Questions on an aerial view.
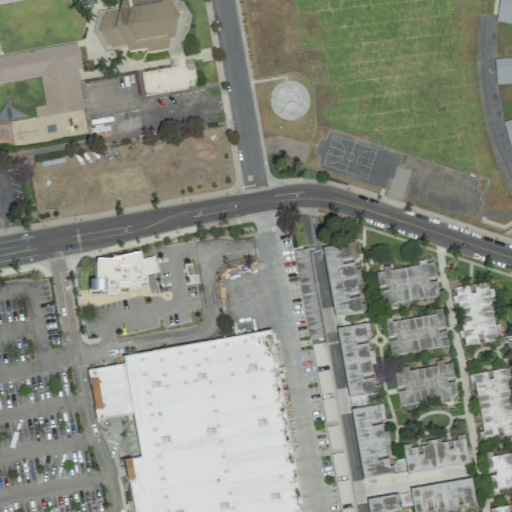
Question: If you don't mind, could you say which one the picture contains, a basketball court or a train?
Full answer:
It is a basketball court that can be seen here.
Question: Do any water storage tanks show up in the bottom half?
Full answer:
No, no water storage tank appears in the bottom half.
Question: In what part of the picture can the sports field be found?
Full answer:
The sports field sits in the top right section of the image.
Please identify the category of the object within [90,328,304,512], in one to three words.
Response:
warehouse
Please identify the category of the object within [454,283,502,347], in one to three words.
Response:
building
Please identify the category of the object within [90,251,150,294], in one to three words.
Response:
building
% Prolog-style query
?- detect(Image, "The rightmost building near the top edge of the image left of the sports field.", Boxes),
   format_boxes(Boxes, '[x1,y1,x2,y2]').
[95,0,192,54]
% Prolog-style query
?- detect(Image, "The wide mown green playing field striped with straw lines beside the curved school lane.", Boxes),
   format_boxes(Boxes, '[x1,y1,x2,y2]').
[298,0,503,178]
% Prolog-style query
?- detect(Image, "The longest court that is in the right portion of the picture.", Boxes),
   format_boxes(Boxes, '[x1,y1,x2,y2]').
[317,129,400,187]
